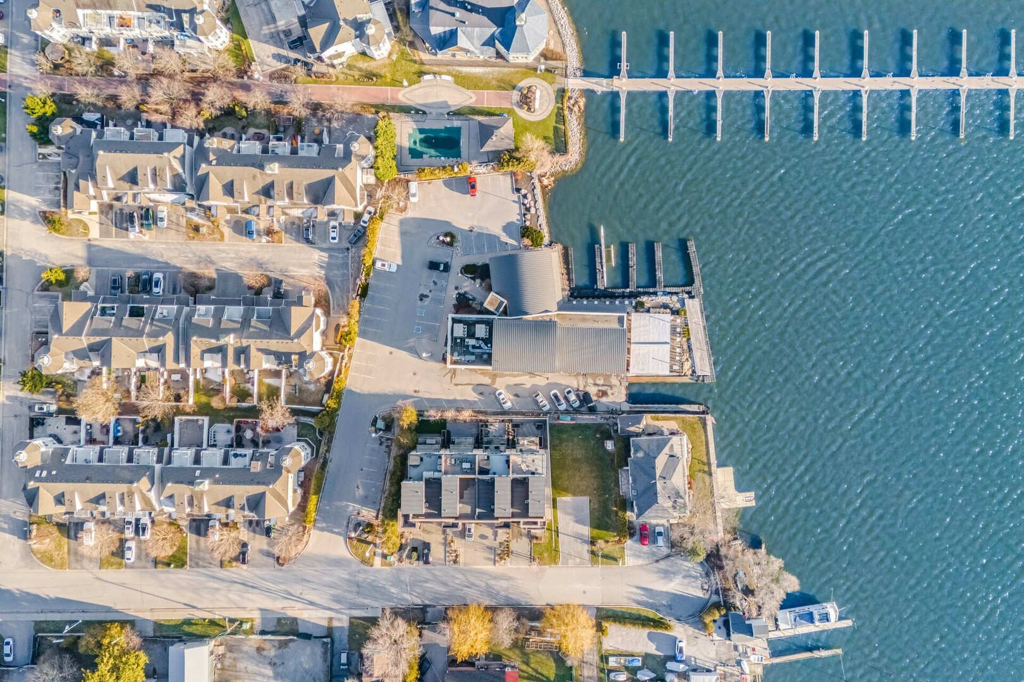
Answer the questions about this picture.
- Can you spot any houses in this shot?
Yes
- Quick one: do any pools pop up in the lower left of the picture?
No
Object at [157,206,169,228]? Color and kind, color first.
white vehicle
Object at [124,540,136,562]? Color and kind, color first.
white vehicle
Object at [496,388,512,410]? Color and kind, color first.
white car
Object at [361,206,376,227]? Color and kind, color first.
white car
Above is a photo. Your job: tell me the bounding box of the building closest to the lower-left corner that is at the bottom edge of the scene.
[168,637,218,682]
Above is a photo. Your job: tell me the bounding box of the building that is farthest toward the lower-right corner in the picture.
[725,608,769,643]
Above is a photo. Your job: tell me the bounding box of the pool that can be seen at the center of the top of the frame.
[400,121,468,165]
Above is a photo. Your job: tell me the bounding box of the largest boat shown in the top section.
[602,226,614,287]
